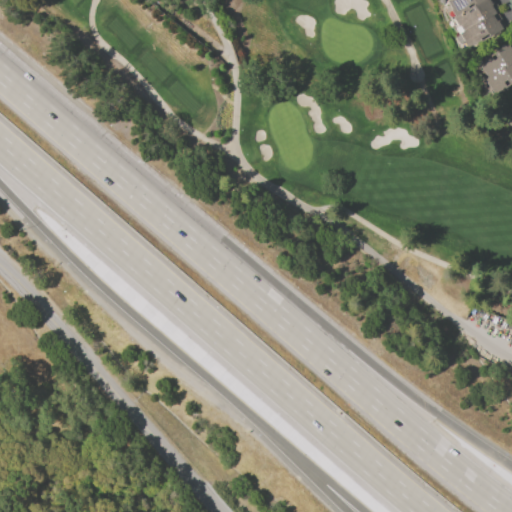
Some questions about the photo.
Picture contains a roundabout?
No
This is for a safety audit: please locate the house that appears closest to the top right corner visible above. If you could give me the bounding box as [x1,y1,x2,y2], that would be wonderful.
[456,0,506,46]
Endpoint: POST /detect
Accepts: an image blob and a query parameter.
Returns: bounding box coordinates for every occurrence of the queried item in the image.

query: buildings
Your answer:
[484,42,512,92]
[456,0,506,46]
